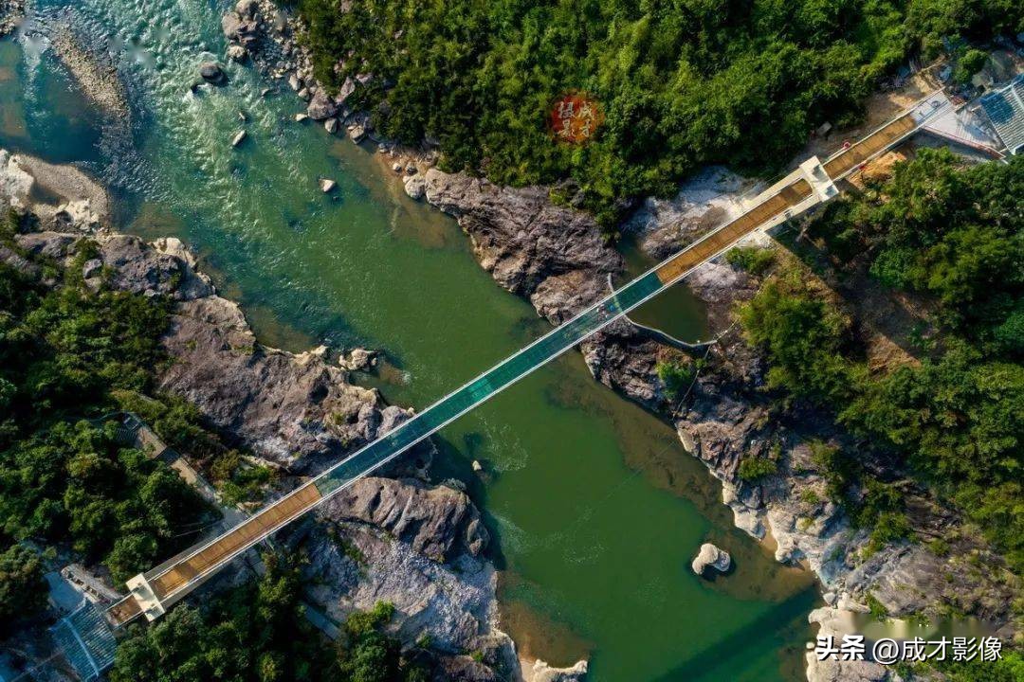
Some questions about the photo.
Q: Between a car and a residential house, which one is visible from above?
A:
residential house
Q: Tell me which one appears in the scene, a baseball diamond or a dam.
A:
dam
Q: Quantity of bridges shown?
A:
1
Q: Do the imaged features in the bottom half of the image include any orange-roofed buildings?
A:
No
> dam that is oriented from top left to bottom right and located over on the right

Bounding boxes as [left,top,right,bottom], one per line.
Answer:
[607,272,719,347]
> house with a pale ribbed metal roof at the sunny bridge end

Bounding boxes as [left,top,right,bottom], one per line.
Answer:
[969,74,1024,163]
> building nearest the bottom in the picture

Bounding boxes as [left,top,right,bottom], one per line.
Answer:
[46,598,131,682]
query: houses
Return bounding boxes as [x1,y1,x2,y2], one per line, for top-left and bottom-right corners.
[969,74,1024,163]
[46,598,131,682]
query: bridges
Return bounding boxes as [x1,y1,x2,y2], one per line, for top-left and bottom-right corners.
[102,85,962,631]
